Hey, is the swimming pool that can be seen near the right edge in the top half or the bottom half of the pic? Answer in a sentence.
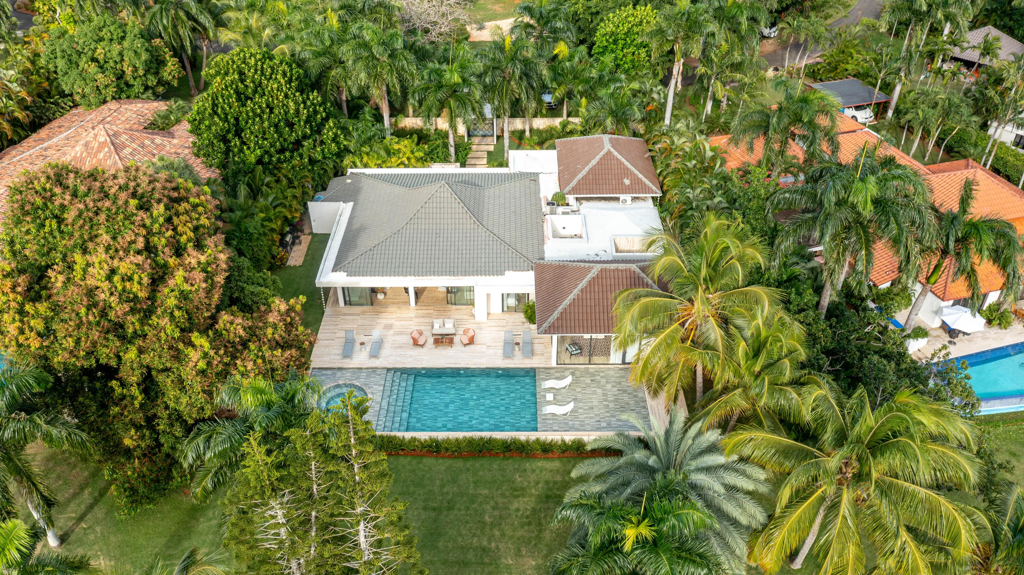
The swimming pool that can be seen near the right edge is in the bottom half of the image.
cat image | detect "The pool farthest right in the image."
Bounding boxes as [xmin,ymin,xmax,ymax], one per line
[924,342,1024,431]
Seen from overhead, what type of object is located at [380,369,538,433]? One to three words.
swimming pool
